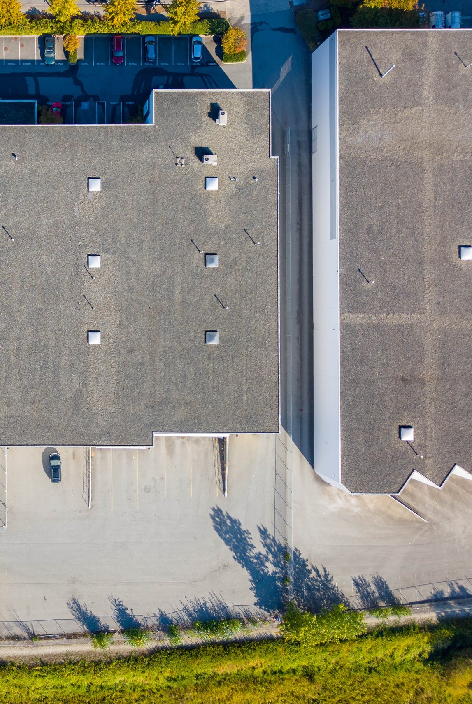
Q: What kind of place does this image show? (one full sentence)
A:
This image shows an industrial area.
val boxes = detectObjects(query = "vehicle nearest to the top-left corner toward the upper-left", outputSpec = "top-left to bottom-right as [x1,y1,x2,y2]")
[43,36,57,67]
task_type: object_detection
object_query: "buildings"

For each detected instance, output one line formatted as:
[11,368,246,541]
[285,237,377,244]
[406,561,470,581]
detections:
[312,29,472,495]
[0,88,281,451]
